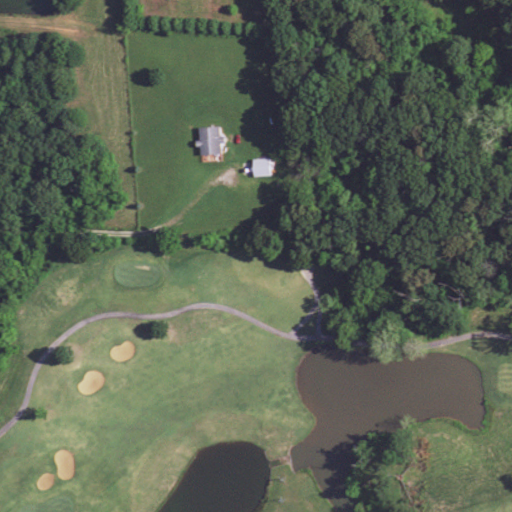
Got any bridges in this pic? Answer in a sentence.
No, the picture doesn't show any bridge.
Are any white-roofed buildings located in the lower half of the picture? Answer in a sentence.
No, the scene shows no white-roofed building in the lower half of the picture.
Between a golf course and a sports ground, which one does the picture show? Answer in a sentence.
This looks like a golf course.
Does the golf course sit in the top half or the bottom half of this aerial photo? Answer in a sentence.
The bottom half of the photo is where the golf course is.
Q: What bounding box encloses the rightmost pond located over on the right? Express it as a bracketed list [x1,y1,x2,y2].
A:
[291,348,485,512]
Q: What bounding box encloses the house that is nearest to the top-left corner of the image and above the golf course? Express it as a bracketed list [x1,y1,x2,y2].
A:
[195,126,227,162]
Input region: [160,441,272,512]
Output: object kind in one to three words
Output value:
pond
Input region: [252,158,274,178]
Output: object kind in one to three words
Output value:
building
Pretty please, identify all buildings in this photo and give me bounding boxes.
[252,158,274,178]
[195,126,227,162]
